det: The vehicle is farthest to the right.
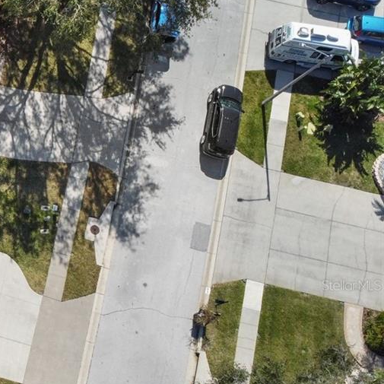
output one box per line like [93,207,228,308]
[348,14,384,51]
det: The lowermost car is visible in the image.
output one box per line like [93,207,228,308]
[196,83,246,164]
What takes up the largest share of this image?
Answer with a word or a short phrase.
paved ground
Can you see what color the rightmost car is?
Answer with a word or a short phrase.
blue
